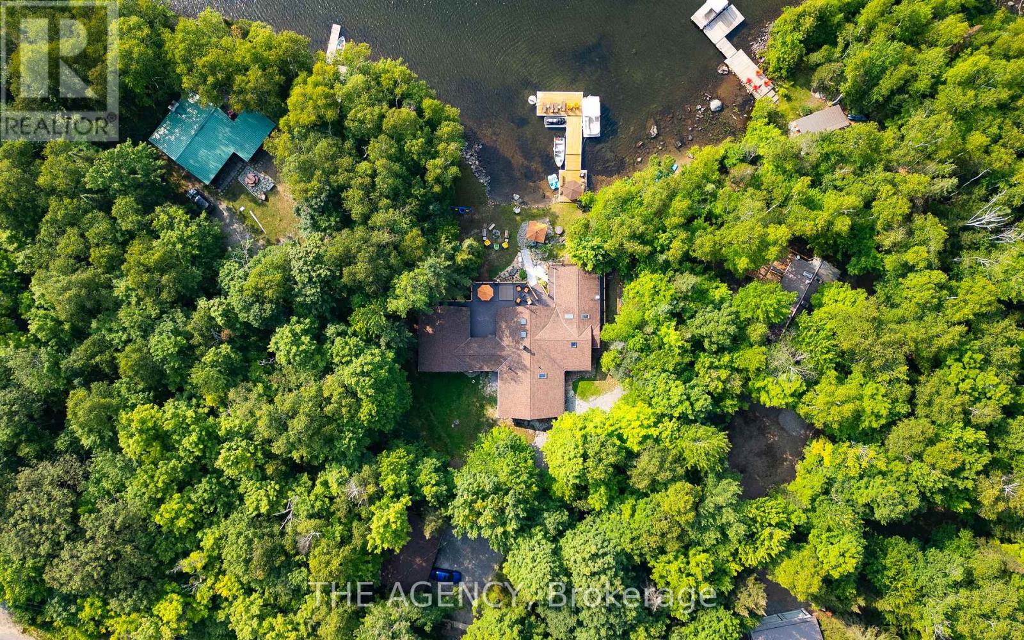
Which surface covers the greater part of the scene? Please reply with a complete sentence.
Most of the picture is covered by trees.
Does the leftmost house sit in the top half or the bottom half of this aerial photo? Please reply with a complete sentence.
It is in the top half that the leftmost house appears.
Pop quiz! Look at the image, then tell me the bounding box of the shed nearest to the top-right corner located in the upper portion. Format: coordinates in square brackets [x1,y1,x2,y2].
[796,101,847,138]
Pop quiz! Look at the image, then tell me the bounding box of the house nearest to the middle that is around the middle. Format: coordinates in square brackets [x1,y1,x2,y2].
[417,265,601,421]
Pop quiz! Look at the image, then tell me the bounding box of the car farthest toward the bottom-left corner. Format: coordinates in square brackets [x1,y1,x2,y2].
[430,568,460,585]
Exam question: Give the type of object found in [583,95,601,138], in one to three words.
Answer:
boat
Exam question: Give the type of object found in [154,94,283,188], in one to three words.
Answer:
house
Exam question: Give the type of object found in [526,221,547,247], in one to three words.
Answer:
umbrella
